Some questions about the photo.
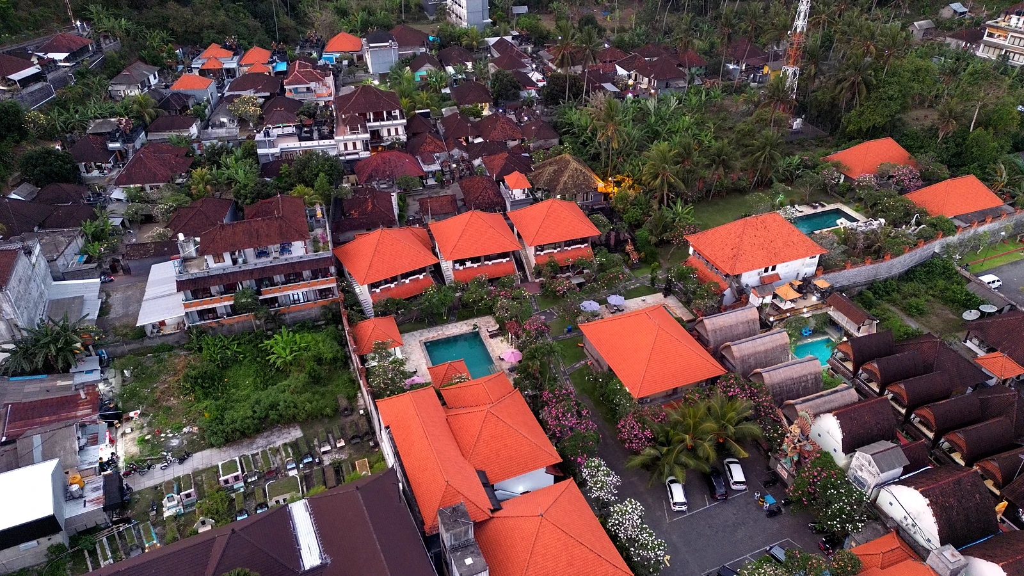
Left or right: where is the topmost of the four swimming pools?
right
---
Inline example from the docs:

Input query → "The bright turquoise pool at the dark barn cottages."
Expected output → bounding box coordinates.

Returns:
[789,330,845,368]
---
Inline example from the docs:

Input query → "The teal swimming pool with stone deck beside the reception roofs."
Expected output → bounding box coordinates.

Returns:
[400,314,526,406]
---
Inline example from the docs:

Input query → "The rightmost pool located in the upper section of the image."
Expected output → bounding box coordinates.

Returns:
[789,203,868,237]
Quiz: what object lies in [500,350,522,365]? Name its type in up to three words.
umbrella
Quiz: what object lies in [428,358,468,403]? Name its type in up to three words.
building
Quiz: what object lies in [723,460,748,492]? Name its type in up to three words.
car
